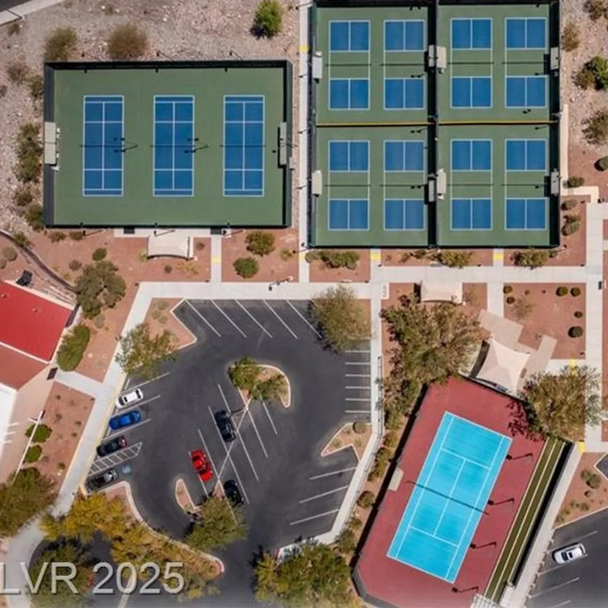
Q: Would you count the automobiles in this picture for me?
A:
8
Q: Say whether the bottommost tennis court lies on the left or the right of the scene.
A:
right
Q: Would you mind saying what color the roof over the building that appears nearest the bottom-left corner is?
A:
red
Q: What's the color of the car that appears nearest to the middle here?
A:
black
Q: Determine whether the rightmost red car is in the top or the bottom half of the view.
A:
bottom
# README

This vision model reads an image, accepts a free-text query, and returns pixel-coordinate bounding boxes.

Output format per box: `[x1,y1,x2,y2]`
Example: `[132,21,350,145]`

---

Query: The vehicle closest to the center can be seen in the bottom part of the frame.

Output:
[214,408,237,442]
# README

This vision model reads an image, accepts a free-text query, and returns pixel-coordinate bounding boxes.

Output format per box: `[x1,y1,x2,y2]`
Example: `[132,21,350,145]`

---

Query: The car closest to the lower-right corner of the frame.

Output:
[553,543,587,565]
